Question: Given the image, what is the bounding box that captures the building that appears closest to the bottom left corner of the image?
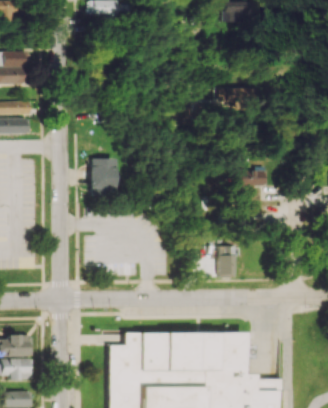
[5,392,32,408]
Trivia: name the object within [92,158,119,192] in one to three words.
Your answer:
house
